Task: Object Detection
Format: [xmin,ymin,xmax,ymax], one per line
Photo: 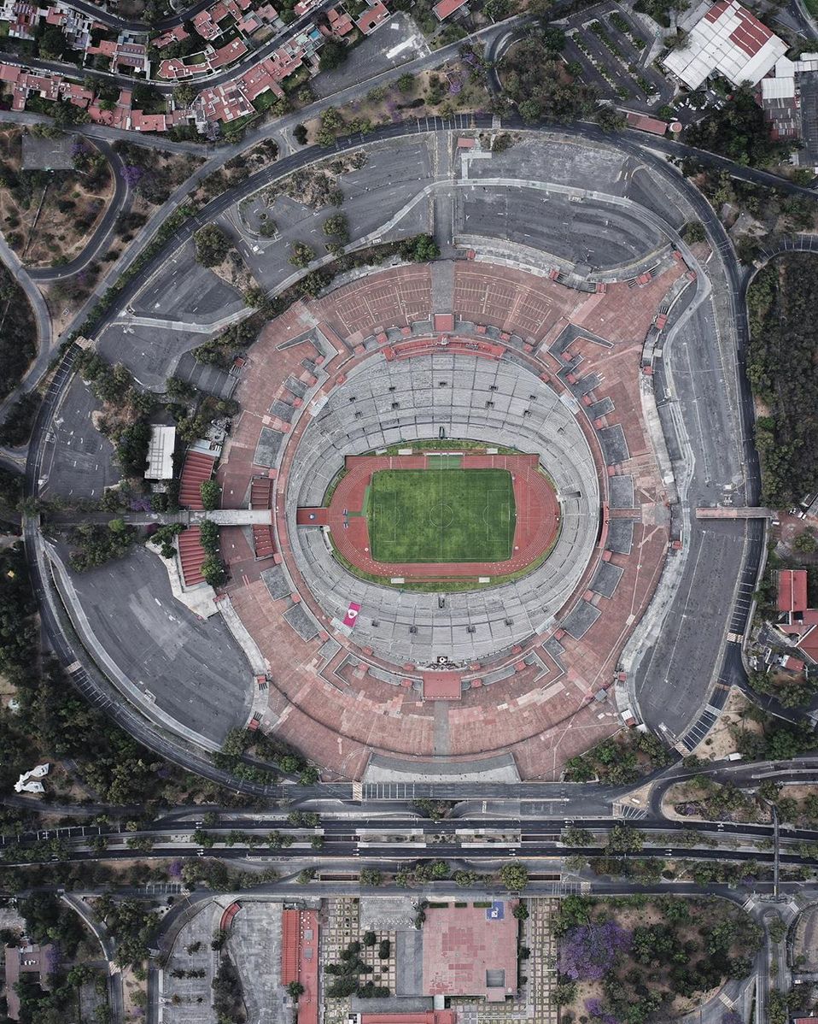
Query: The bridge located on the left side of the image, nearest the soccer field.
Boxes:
[175,510,273,526]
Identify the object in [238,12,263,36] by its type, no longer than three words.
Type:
house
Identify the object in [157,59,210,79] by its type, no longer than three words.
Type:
house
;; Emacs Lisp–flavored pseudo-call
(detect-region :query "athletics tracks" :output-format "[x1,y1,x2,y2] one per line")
[329,450,561,581]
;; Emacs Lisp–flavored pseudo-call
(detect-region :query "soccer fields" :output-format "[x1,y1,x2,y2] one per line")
[366,469,517,563]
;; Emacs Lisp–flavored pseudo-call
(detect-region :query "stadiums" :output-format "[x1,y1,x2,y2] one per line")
[175,258,691,782]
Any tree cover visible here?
Yes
